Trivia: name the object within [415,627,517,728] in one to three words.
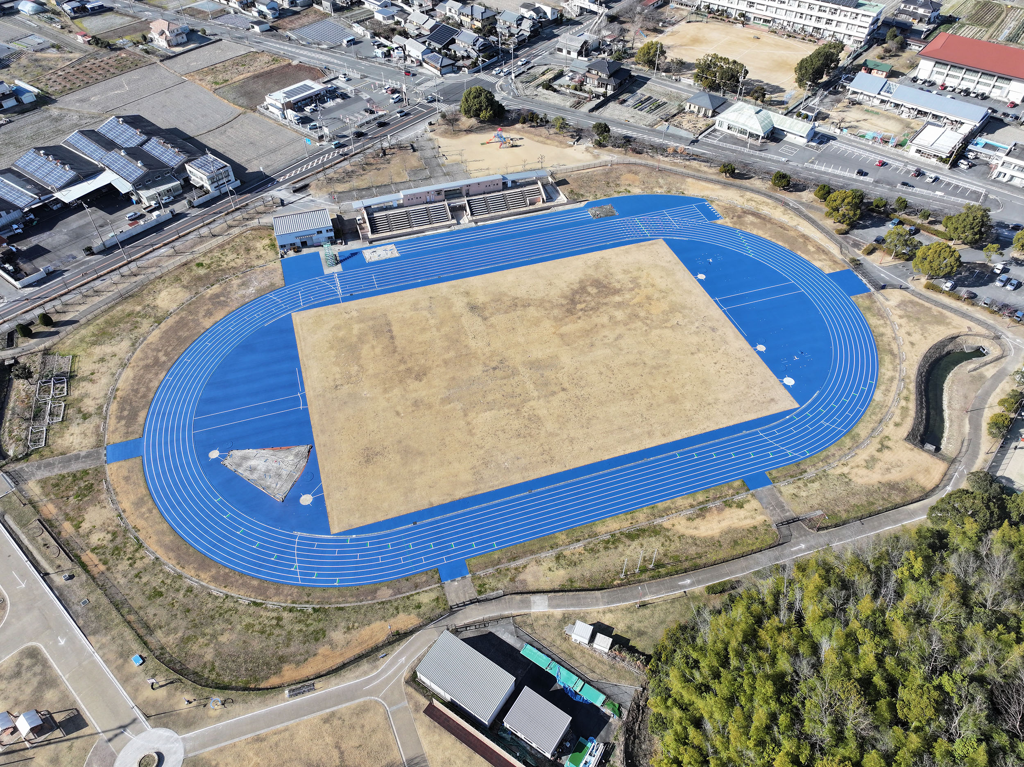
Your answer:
building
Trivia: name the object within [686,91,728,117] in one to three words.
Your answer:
house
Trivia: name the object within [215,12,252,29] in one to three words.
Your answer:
solar array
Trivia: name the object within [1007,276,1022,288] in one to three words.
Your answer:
vehicle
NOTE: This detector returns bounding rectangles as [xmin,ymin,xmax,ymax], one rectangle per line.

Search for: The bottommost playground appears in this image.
[431,132,619,178]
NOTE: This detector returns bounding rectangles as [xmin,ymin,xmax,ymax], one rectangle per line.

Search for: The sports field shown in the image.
[624,19,836,111]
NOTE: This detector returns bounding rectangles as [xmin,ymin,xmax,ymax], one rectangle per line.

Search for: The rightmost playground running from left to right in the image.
[820,100,922,146]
